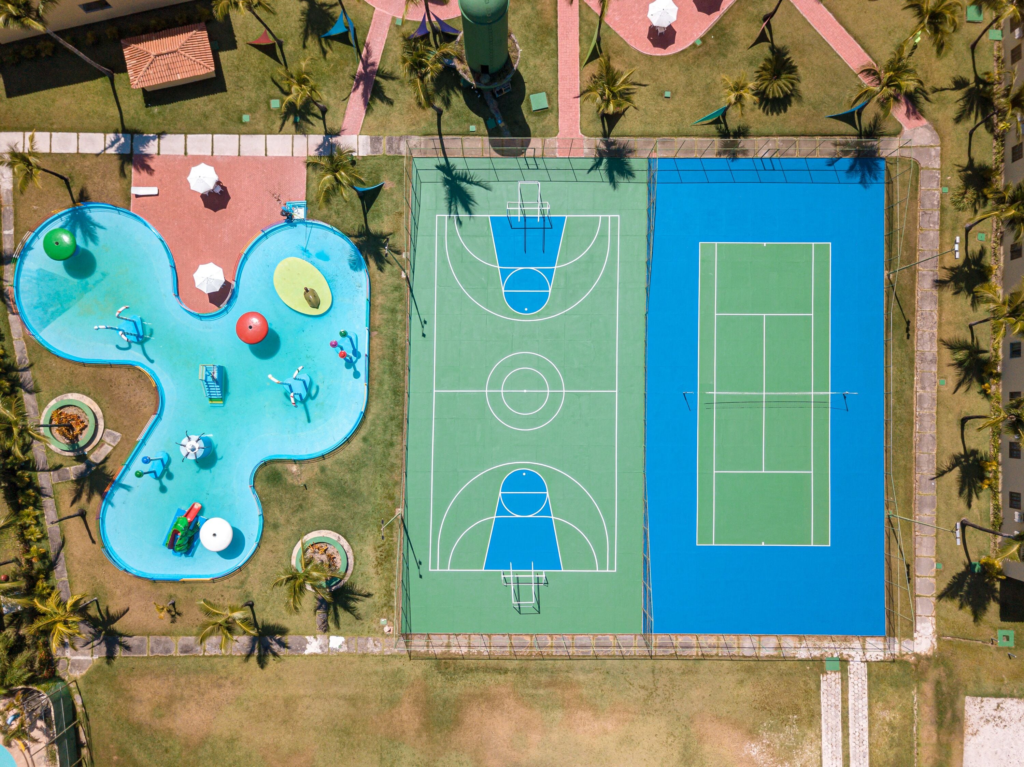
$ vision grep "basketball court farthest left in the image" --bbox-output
[398,155,647,634]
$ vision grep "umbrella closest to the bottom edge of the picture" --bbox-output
[195,263,228,295]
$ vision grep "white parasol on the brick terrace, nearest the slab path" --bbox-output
[188,164,219,195]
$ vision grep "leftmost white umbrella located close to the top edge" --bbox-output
[646,0,677,31]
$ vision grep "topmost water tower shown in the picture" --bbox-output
[456,0,519,93]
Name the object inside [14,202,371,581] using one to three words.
swimming pool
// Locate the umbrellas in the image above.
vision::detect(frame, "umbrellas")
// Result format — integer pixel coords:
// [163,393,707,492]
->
[646,0,677,31]
[195,263,228,295]
[188,164,219,195]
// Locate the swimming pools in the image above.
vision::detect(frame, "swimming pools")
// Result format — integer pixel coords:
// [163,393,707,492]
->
[14,202,371,581]
[0,747,16,767]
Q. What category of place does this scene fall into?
sports ground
